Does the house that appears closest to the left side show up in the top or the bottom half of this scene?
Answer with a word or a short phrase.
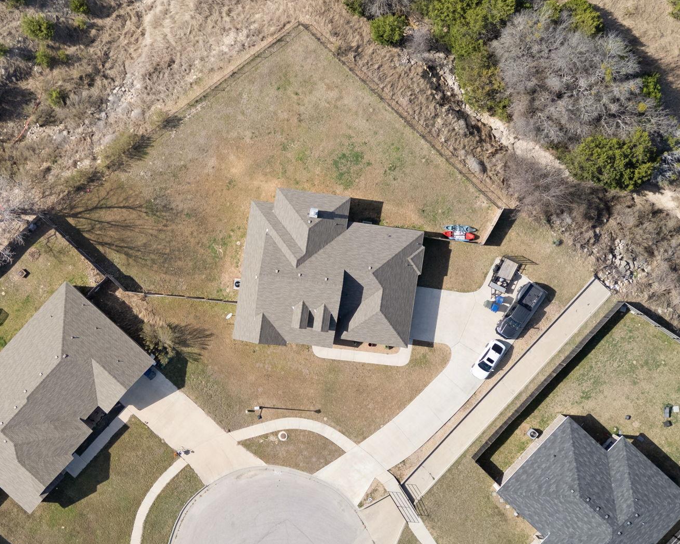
bottom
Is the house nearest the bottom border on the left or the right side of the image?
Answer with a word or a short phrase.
right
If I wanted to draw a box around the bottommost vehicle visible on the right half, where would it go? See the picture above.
[470,336,507,380]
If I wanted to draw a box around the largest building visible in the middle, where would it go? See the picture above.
[233,187,426,349]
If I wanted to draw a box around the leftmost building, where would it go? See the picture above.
[0,282,154,514]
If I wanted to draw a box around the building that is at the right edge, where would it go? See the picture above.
[497,416,680,544]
